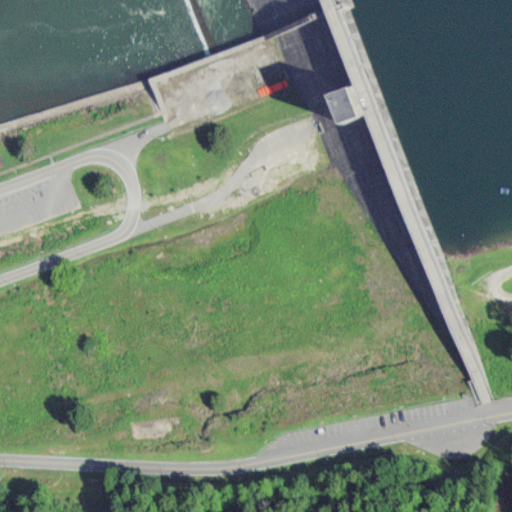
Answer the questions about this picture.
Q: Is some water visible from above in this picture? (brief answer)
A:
Yes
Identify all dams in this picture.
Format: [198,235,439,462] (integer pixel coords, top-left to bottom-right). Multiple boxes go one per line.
[238,0,496,402]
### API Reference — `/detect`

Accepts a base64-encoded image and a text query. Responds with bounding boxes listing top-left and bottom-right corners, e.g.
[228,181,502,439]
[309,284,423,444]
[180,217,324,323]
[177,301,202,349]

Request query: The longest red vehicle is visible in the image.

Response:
[256,81,288,97]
